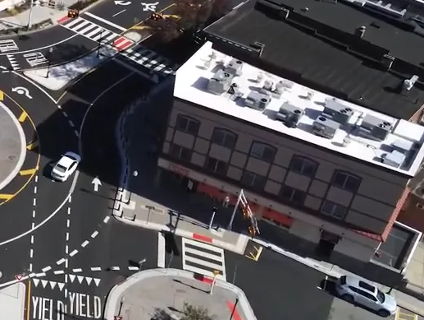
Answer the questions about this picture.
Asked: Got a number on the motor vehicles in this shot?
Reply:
2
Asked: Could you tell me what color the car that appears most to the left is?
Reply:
white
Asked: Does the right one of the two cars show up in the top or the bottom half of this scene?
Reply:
bottom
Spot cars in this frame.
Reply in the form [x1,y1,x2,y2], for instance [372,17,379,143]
[340,273,401,317]
[50,151,80,180]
